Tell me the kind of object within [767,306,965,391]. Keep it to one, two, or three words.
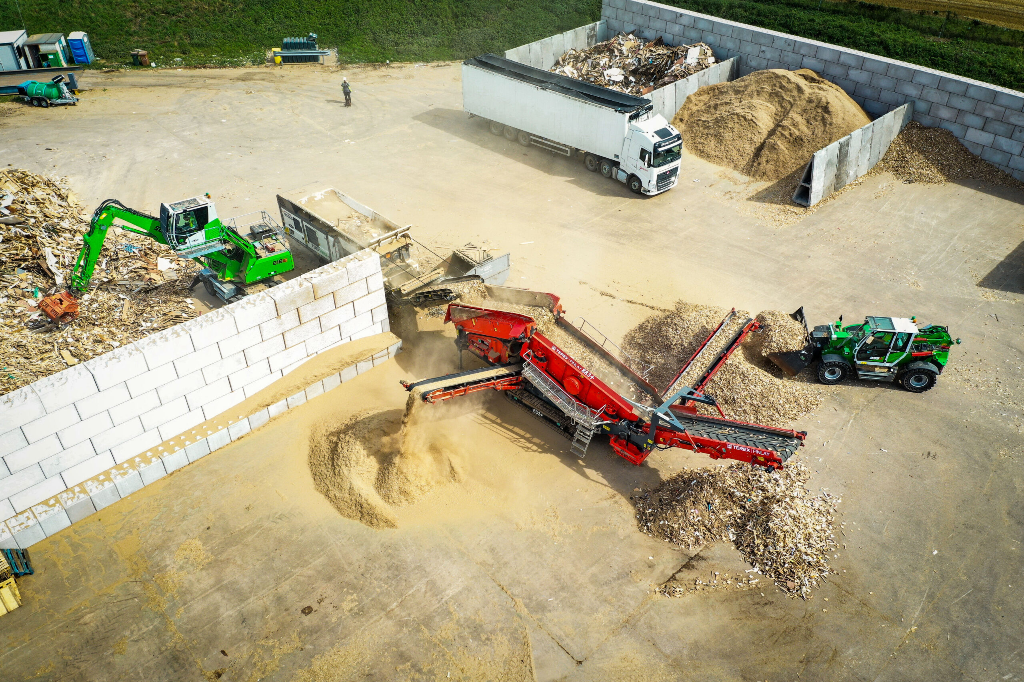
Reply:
work vehicle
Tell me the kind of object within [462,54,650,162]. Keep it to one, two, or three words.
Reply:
trailer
